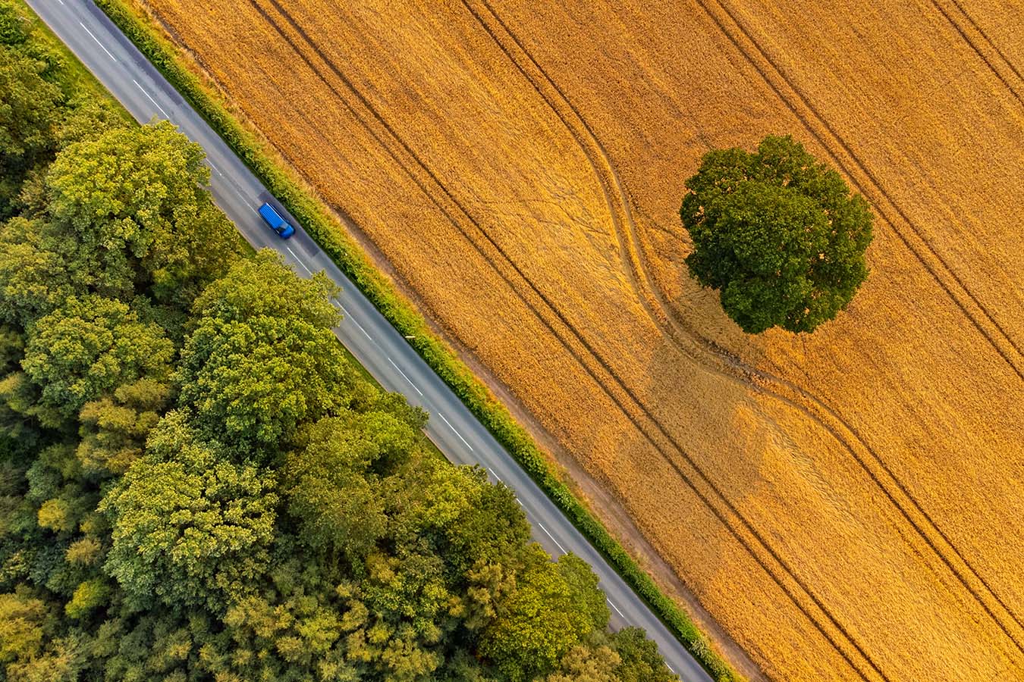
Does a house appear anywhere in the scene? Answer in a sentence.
No, I can see no house in this picture.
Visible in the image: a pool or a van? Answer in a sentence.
I can see a van in this picture.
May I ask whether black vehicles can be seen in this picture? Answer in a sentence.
No, no black vehicle is visible in the scene.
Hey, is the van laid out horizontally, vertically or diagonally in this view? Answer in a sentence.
The van is laid out diagonally.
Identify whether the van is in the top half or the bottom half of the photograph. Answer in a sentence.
The van sits in the top half of the picture.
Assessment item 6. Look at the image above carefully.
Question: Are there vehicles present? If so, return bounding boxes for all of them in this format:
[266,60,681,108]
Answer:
[259,202,300,243]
